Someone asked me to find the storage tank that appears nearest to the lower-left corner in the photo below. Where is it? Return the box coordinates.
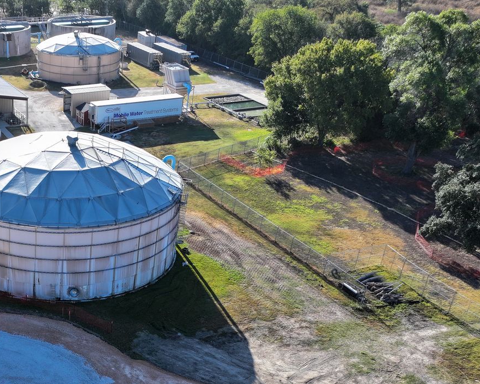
[0,130,196,304]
